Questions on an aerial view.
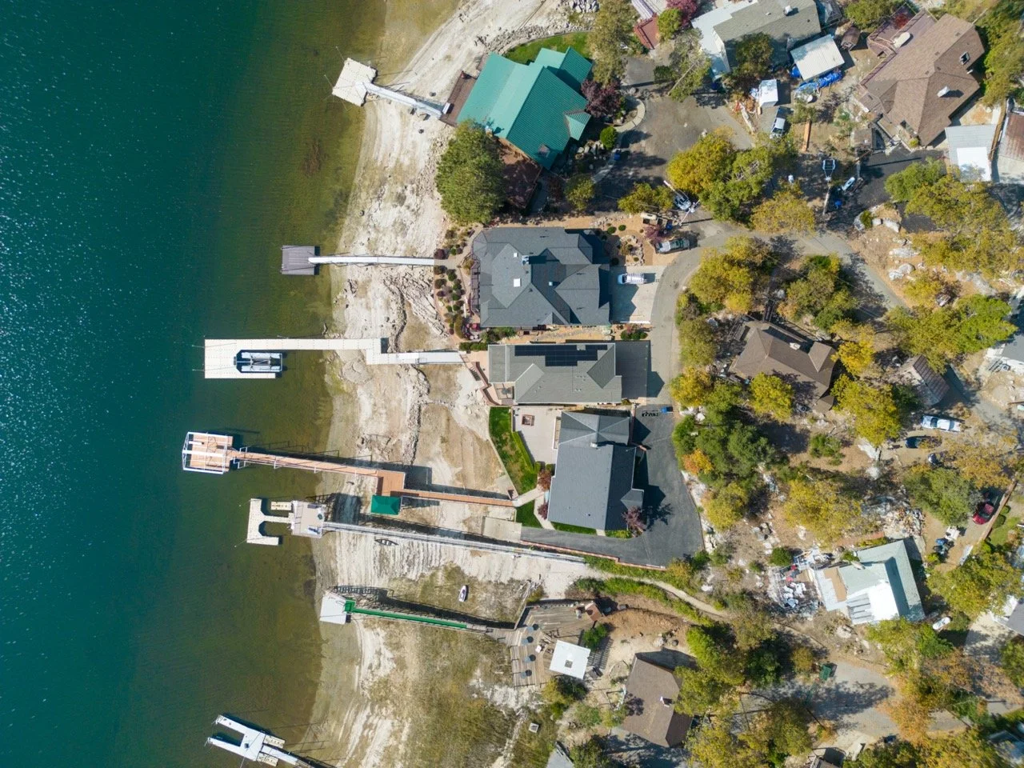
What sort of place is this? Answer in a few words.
residential area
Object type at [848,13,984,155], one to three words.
house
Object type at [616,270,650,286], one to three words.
vehicle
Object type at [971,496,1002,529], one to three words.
car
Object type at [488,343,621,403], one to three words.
house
